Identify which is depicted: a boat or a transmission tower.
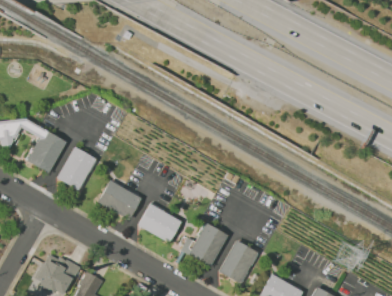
transmission tower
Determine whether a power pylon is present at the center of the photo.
No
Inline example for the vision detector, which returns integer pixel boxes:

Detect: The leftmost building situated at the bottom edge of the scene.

[28,257,80,296]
